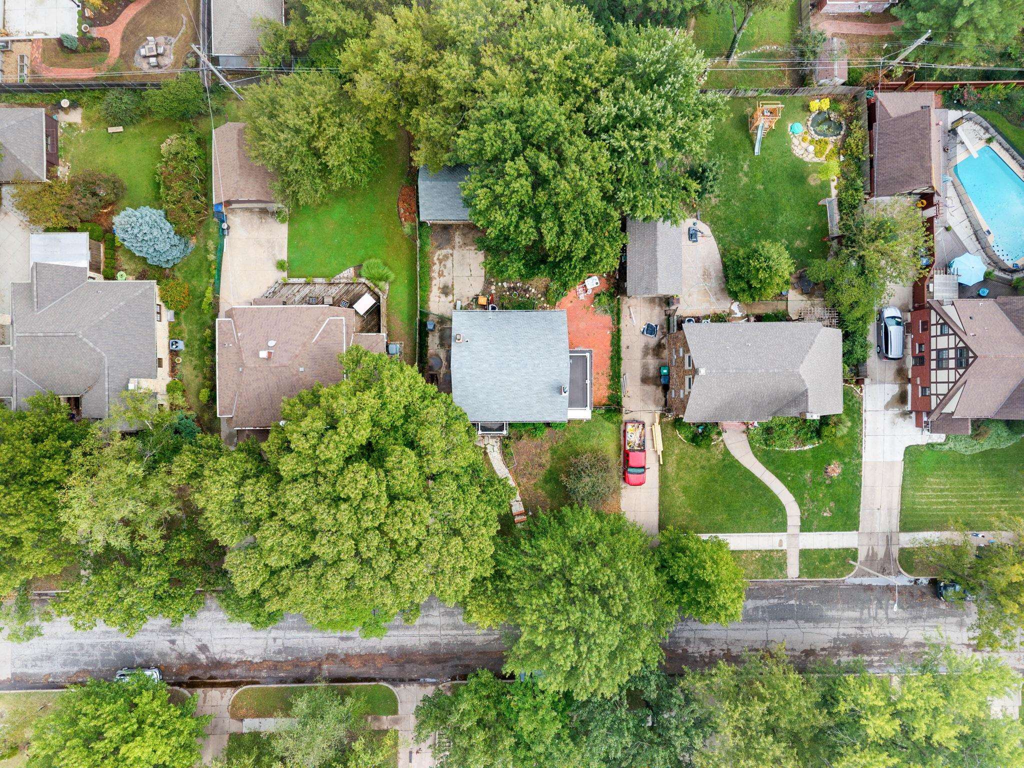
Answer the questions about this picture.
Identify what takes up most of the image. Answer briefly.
trees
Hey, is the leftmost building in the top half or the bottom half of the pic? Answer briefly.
top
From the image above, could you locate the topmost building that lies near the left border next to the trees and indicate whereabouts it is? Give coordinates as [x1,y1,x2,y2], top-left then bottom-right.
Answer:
[0,107,58,188]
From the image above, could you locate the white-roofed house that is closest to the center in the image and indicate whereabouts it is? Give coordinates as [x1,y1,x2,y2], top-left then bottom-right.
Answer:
[451,309,593,435]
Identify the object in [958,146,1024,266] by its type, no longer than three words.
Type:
swimming pool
